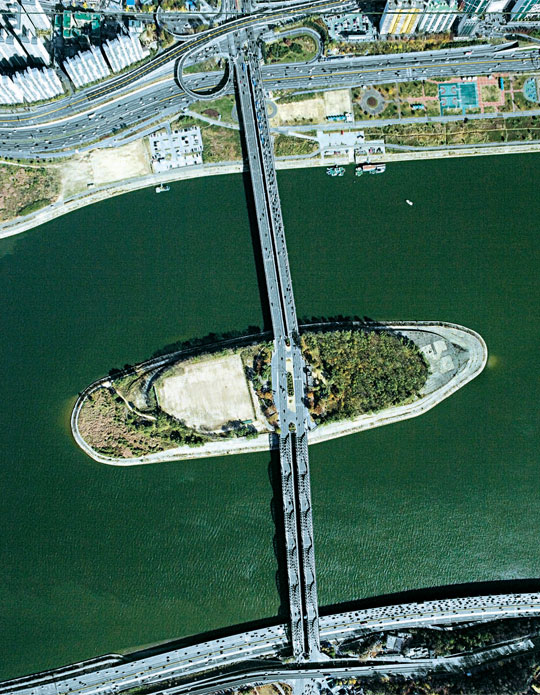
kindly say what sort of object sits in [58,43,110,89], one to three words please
building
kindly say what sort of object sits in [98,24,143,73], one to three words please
building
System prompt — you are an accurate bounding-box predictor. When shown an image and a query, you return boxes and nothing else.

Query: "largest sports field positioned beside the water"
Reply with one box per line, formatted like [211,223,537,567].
[155,353,256,432]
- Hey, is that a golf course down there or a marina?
marina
